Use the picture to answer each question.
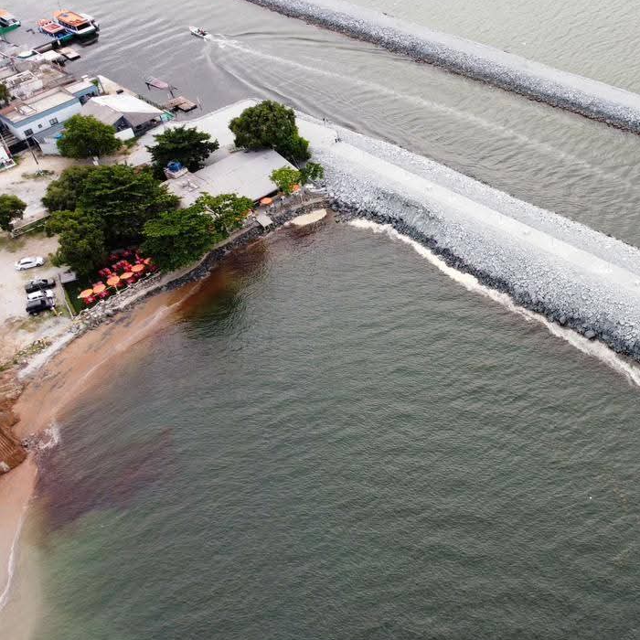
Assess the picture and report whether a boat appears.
Yes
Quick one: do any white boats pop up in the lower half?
No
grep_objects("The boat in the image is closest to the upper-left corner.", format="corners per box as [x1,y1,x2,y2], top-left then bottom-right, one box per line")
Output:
[0,17,22,34]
